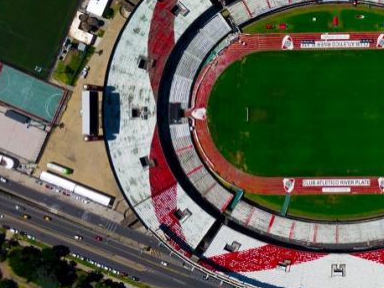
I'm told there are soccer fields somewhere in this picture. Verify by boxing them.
[0,0,81,79]
[207,48,384,177]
